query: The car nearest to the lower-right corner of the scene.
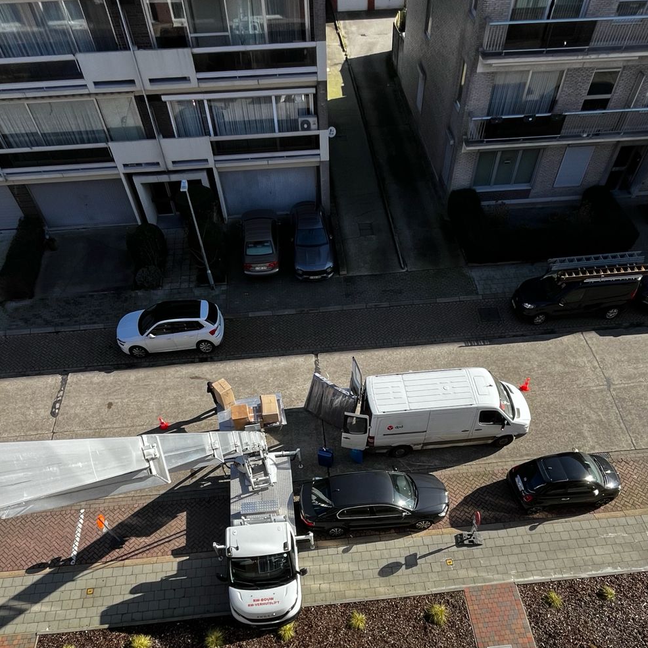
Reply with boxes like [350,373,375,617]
[509,443,622,507]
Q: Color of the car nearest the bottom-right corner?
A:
black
